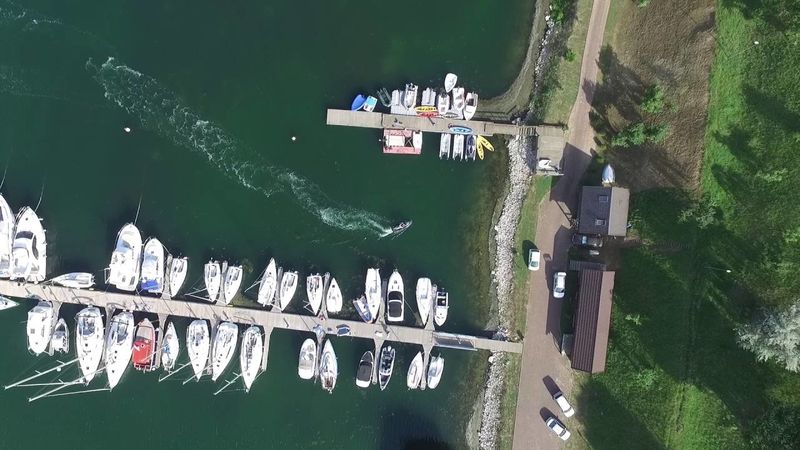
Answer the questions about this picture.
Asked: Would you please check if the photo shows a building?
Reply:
Yes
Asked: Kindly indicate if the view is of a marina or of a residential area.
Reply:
marina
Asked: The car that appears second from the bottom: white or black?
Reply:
white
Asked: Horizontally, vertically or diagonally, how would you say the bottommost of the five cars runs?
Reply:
diagonally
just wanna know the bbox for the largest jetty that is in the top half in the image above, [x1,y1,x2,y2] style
[327,109,538,137]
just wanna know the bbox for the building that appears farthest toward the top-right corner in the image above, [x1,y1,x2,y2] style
[575,186,631,237]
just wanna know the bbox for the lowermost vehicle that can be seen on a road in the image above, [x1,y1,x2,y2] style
[545,415,571,441]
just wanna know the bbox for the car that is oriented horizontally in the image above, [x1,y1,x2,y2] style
[571,234,604,248]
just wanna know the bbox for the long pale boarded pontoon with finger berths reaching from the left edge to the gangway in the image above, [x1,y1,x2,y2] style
[0,255,439,389]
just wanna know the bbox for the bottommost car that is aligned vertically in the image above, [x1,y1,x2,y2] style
[552,271,566,299]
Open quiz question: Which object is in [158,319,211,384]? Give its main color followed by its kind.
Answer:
white boat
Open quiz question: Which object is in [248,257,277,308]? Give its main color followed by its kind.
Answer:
white boat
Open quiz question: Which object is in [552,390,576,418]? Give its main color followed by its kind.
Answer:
white car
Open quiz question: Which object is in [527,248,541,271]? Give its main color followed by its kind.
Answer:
white car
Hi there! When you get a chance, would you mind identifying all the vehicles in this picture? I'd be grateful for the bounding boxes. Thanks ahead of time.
[552,271,566,299]
[527,248,541,271]
[552,390,576,418]
[571,234,604,248]
[545,415,571,441]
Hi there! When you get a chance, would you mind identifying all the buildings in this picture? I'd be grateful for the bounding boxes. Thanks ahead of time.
[575,186,631,237]
[570,269,616,376]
